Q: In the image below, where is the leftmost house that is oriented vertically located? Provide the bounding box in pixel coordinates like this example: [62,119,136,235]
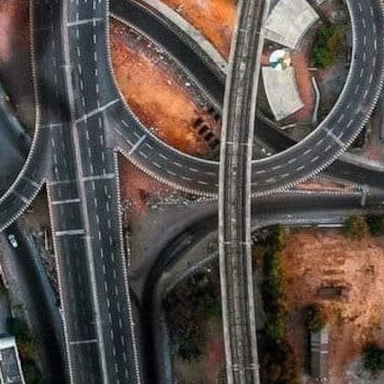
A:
[0,332,27,384]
